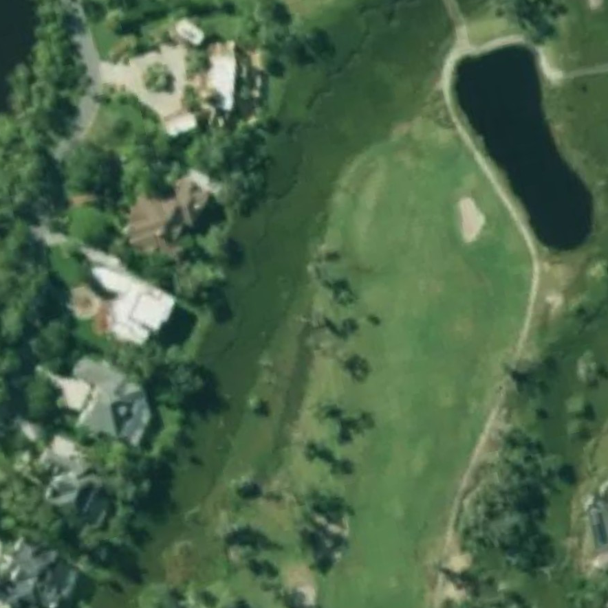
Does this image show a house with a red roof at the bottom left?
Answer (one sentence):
No, looking at the bottom left, there is no house with a red roof.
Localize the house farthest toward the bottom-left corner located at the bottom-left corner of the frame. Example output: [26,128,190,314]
[0,538,79,608]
